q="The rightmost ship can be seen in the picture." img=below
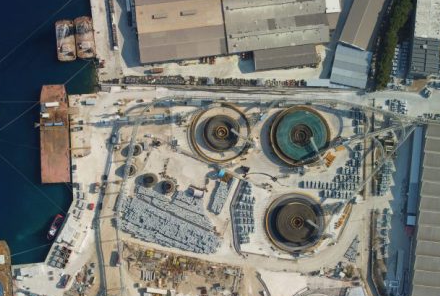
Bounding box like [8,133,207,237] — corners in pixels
[75,15,95,58]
